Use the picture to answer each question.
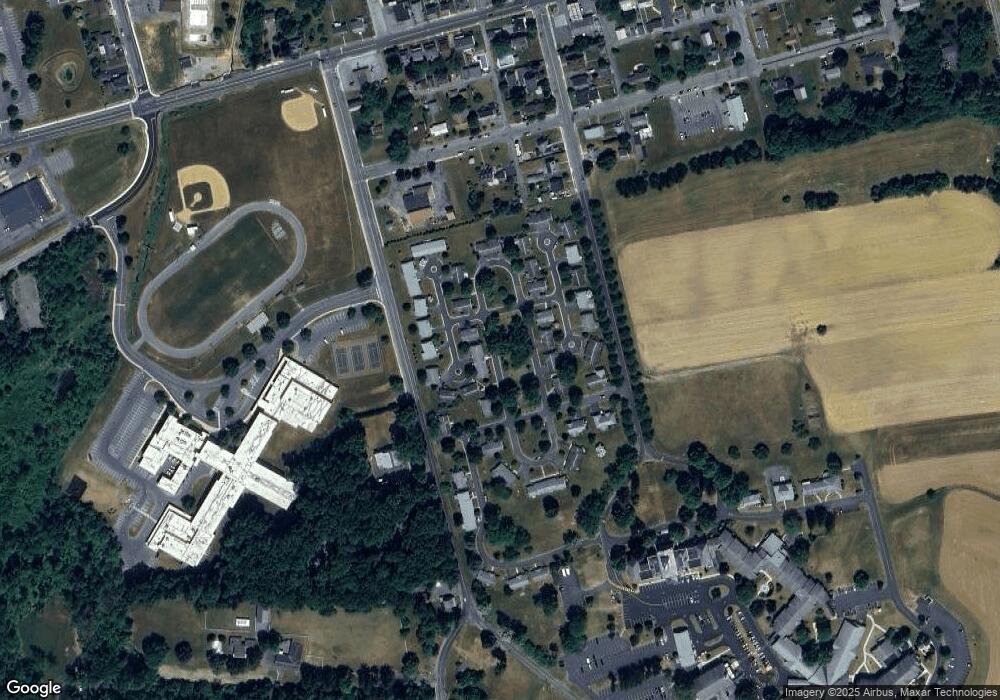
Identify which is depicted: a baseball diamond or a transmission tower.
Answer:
baseball diamond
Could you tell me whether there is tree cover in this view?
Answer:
Yes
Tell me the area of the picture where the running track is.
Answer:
left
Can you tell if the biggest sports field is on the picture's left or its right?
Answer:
left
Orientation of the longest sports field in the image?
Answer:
at an angle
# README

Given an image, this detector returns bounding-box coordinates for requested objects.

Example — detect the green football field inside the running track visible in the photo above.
[147,212,296,347]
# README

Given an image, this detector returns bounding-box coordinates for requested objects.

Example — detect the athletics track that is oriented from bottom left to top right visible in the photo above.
[136,200,308,358]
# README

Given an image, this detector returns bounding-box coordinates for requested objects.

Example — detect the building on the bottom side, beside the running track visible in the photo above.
[138,356,339,566]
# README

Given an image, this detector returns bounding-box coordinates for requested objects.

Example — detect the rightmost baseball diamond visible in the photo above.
[281,89,323,131]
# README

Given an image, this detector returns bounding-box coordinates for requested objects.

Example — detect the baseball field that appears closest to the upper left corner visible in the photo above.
[174,165,229,226]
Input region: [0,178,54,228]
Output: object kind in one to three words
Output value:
building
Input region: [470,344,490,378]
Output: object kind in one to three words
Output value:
house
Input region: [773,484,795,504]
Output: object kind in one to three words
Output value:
house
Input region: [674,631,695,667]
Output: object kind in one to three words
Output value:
building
